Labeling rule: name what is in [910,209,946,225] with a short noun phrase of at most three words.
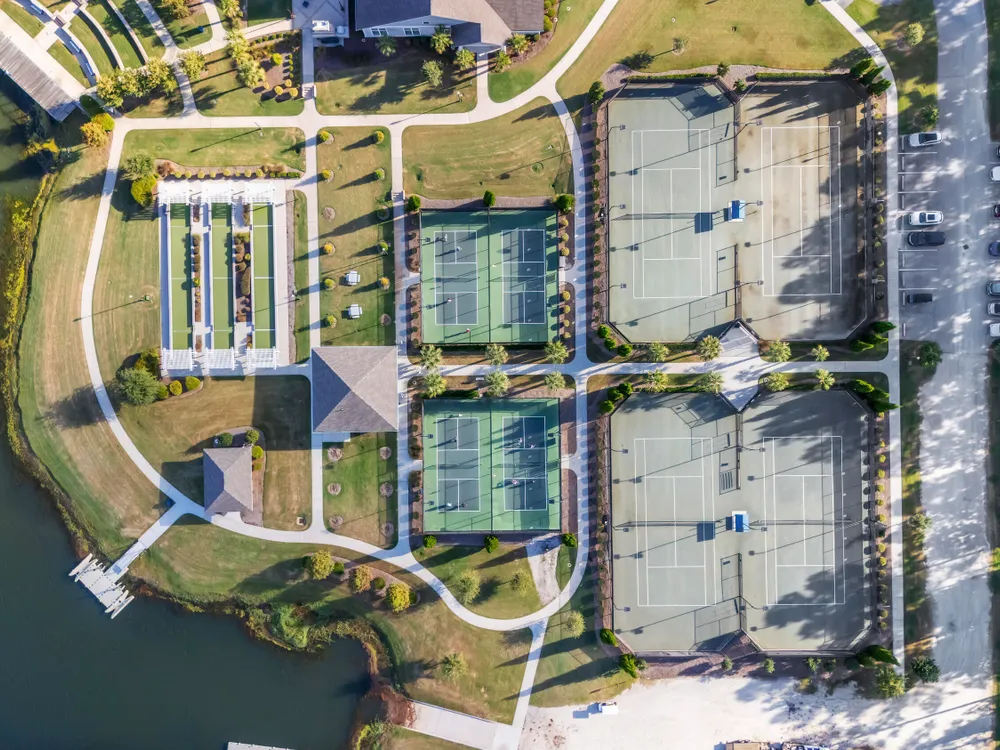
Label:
car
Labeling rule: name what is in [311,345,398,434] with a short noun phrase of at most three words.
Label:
building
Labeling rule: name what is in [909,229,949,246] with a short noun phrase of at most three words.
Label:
car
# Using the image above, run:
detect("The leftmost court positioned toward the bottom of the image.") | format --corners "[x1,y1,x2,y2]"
[423,399,491,532]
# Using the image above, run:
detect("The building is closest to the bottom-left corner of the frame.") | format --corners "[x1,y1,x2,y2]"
[202,446,258,513]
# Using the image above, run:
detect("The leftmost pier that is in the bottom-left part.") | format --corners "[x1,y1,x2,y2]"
[69,541,146,618]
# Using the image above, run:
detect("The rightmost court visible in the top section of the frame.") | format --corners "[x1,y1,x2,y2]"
[734,84,866,341]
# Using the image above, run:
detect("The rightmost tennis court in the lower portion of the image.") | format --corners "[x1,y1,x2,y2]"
[737,392,871,649]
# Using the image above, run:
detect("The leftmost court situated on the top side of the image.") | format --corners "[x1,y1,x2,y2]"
[420,210,489,343]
